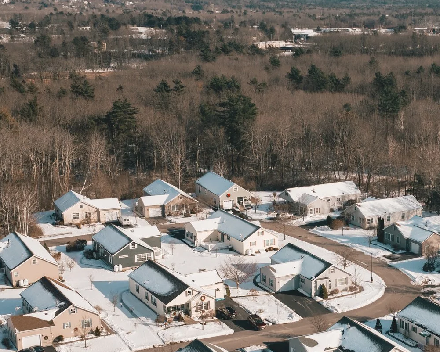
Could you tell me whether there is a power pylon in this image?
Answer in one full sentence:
No, the picture doesn't show any power pylon.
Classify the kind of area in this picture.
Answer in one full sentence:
It's a residential area.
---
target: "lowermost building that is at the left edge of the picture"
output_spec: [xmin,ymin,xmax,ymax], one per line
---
[6,276,102,350]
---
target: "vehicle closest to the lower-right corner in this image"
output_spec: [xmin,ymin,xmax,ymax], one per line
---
[246,310,263,327]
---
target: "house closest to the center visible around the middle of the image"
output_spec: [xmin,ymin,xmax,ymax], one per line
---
[193,172,249,209]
